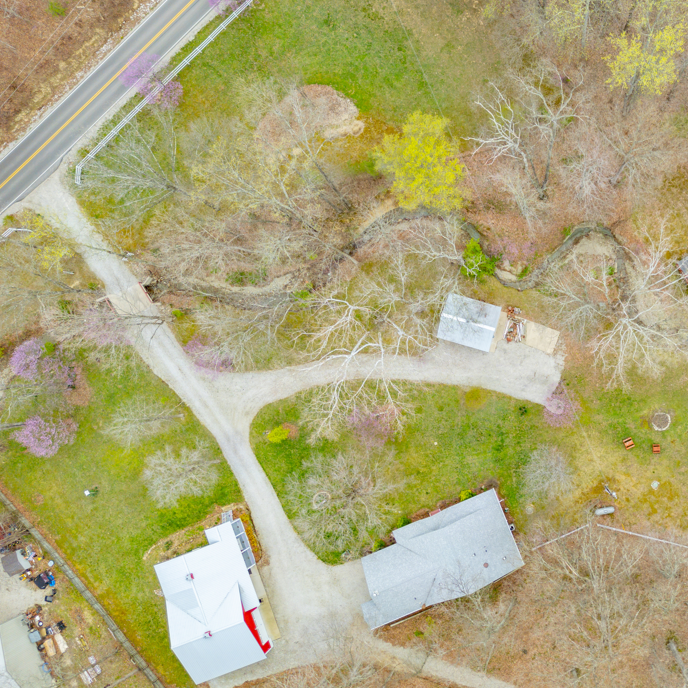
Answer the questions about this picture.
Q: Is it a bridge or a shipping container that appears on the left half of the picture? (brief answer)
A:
bridge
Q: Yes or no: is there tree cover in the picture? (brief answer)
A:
Yes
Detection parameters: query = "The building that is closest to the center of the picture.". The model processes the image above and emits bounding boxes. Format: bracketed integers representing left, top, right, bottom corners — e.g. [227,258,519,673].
[438,293,502,353]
